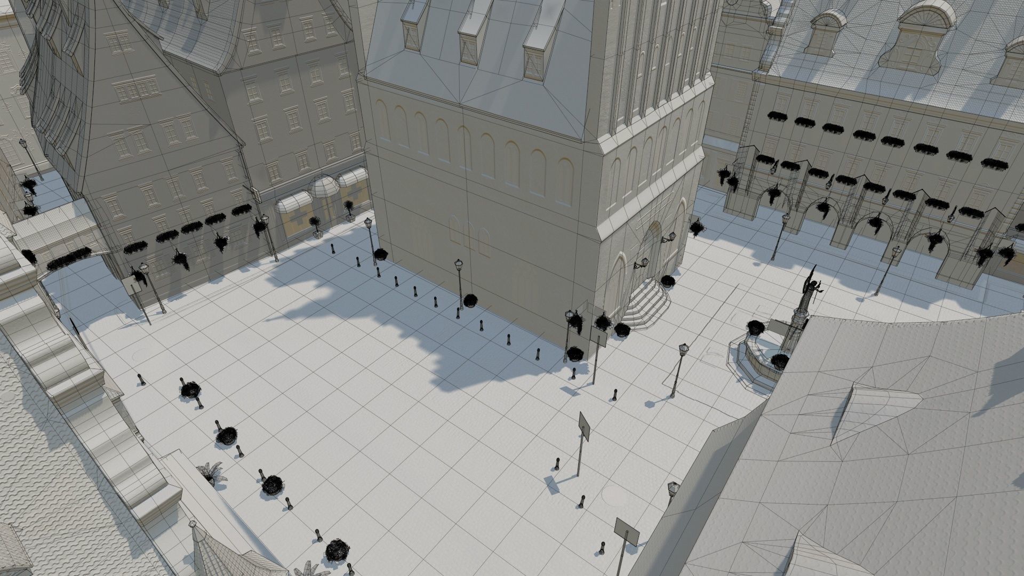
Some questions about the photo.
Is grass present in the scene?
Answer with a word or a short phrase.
No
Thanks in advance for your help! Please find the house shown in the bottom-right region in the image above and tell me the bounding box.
[623,314,1024,576]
